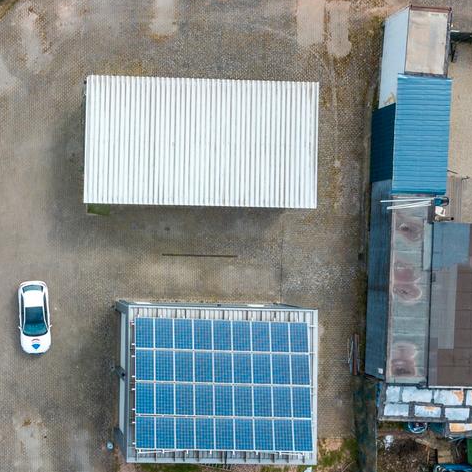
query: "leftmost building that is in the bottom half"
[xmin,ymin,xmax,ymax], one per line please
[114,297,318,464]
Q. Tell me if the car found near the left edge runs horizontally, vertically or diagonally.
vertically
